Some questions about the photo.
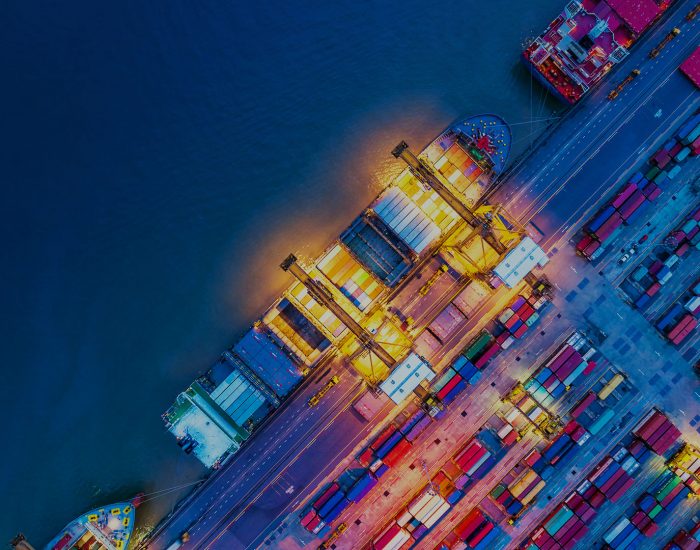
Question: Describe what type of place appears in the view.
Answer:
port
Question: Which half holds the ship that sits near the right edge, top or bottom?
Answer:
top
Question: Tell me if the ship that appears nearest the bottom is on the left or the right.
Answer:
left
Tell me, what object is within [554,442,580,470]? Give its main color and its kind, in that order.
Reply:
blue shipping container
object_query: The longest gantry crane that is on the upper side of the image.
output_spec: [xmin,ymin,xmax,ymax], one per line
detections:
[389,135,556,292]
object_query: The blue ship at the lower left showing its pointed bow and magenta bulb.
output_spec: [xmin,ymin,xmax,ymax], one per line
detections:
[41,492,145,550]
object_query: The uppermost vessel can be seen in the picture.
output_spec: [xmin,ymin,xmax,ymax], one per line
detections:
[522,0,675,103]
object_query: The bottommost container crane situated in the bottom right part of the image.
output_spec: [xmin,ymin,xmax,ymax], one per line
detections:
[651,441,700,499]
